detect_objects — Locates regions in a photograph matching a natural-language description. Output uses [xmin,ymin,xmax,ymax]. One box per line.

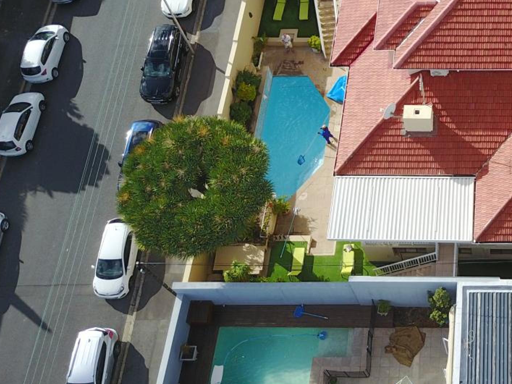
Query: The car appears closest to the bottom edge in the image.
[60,328,117,384]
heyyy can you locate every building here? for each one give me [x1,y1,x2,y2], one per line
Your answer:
[453,280,512,384]
[328,0,512,270]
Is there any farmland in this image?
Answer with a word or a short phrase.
No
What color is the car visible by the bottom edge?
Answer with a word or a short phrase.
white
